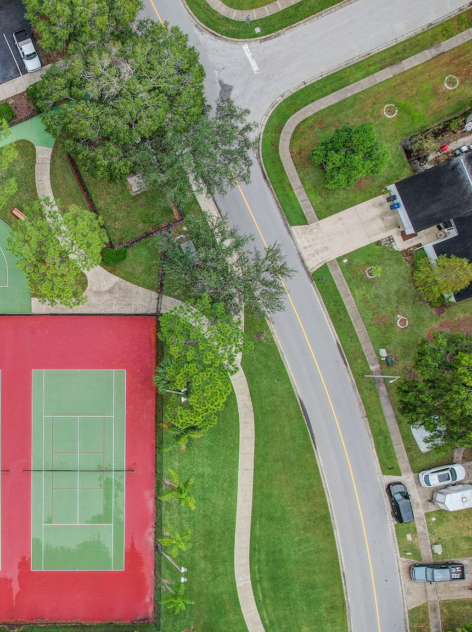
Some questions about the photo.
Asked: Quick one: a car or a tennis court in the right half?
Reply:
car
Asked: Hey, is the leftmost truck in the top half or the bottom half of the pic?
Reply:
top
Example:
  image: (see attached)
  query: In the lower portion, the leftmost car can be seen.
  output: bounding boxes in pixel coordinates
[383,482,414,524]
